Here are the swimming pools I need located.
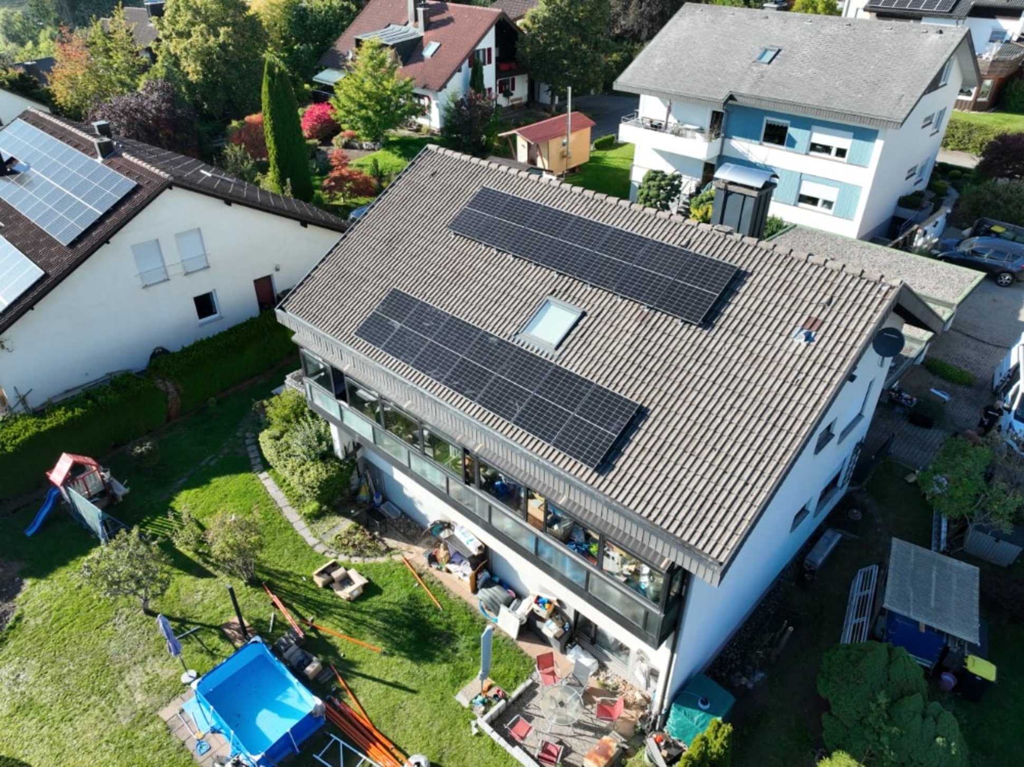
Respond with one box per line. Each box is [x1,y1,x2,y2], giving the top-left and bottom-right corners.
[186,633,333,767]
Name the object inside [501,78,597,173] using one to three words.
shed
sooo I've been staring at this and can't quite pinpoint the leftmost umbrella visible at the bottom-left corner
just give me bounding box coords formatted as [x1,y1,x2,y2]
[155,615,199,685]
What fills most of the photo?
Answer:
buildings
